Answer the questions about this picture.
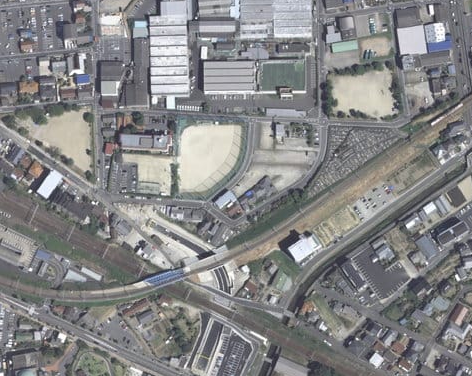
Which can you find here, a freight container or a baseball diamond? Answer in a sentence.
The one in the frame is a baseball diamond.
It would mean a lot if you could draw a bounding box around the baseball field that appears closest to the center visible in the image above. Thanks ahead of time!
[175,120,246,200]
